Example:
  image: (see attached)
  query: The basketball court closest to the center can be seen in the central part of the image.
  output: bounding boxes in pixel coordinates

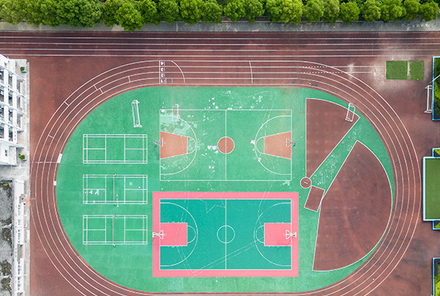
[160,109,291,180]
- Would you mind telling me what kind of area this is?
sports ground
